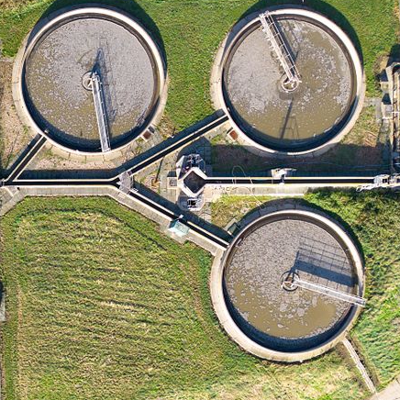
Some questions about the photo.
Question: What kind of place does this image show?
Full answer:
The picture captures an industrial area.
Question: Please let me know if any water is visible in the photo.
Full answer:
Yes, some water is visible.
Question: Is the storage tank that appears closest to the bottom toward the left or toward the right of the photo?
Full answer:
The storage tank that appears closest to the bottom sits on the right side.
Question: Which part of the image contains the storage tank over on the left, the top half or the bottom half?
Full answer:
It is in the top half that the storage tank over on the left appears.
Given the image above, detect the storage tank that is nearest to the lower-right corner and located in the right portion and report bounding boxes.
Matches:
[210,208,366,363]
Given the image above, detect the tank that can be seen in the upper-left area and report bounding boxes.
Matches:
[13,8,167,162]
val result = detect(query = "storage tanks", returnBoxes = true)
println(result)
[210,208,366,363]
[13,8,167,162]
[210,10,366,165]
